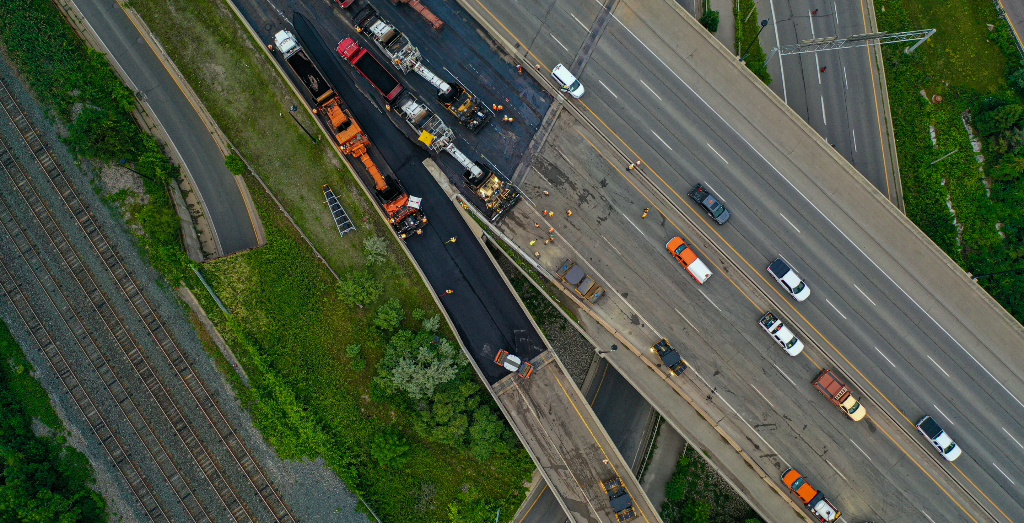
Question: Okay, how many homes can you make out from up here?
0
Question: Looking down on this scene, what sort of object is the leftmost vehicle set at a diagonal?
truck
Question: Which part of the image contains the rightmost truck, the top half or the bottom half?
bottom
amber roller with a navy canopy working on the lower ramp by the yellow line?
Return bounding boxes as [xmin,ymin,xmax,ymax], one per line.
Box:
[599,476,637,523]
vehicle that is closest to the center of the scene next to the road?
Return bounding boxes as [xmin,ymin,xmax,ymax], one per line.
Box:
[555,258,607,306]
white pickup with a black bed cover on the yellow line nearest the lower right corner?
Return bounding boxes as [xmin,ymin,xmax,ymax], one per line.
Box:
[915,415,960,461]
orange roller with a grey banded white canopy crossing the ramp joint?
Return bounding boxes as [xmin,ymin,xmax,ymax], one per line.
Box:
[493,349,535,379]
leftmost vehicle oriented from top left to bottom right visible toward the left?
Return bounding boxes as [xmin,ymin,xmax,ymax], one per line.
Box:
[268,26,334,104]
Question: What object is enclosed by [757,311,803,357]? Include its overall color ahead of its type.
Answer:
white truck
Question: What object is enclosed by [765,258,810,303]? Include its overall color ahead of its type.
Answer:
white truck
